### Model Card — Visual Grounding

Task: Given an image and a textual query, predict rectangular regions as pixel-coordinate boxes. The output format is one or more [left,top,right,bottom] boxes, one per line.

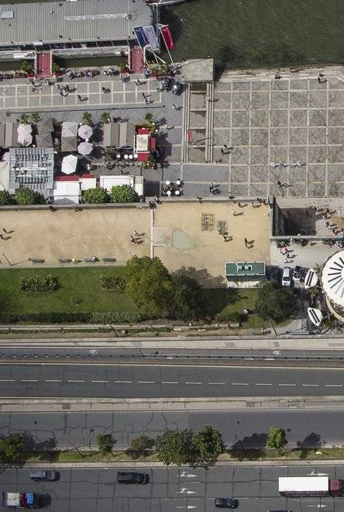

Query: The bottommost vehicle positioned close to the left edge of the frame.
[0,493,34,507]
